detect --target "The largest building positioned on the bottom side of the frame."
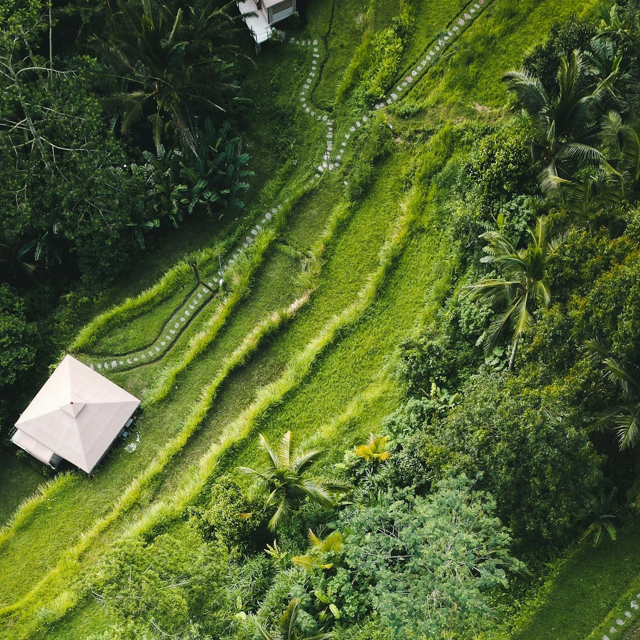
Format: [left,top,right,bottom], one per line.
[8,358,142,476]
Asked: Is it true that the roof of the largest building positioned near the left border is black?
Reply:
No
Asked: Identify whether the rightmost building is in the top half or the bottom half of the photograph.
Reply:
top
